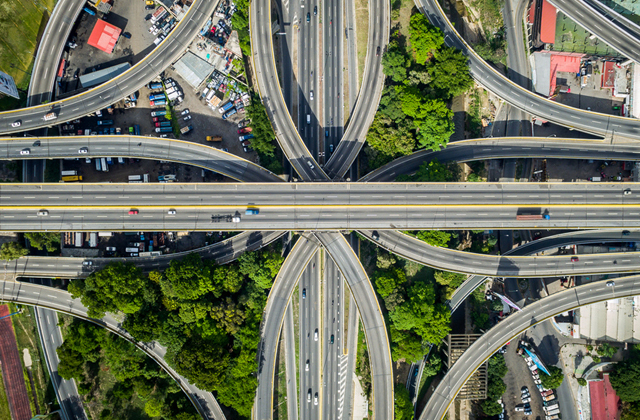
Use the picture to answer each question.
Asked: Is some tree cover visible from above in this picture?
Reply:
Yes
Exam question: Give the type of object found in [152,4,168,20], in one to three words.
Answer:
vehicle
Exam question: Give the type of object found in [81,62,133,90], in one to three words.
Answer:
shed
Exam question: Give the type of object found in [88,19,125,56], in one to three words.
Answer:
building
